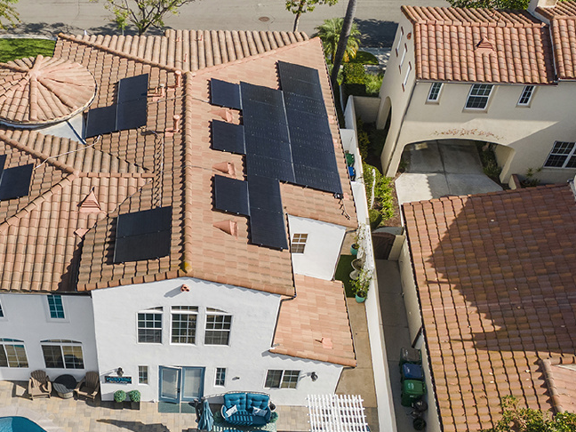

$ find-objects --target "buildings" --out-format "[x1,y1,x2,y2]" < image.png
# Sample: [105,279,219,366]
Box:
[0,33,362,407]
[379,0,576,432]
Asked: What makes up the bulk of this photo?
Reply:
buildings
